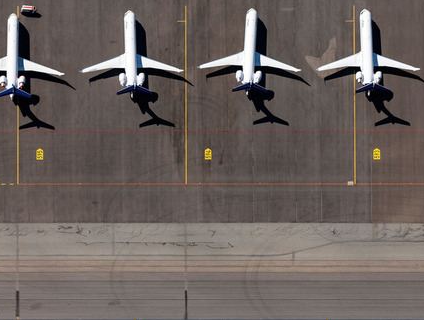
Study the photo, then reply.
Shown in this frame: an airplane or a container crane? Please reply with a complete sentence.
Visible in the photo is an airplane.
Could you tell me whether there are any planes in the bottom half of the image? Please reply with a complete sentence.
No, the scene shows no plane in the bottom half of the image.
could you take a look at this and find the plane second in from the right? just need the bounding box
[198,8,300,94]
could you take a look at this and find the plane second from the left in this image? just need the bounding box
[81,10,182,96]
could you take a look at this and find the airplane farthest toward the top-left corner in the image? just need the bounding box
[0,13,63,99]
